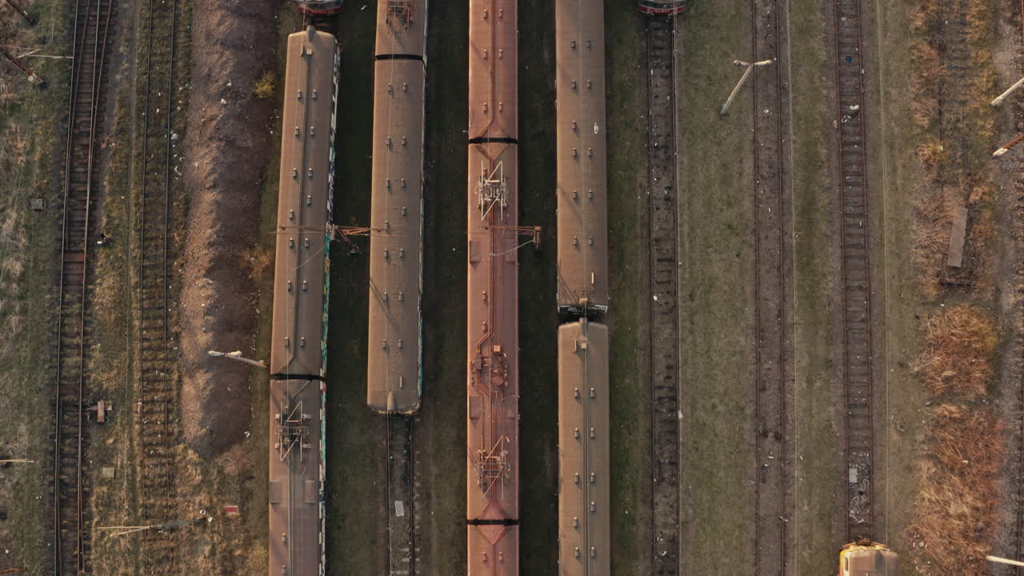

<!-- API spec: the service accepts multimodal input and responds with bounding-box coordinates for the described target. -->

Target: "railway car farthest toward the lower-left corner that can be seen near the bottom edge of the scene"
[271,380,327,576]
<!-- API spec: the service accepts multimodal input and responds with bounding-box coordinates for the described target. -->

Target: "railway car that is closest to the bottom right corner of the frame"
[843,530,904,576]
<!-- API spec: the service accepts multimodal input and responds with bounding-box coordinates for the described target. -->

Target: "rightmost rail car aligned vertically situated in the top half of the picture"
[554,0,607,311]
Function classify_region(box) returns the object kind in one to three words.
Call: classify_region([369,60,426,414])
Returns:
rail car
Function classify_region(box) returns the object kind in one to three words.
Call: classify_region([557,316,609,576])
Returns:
rail car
